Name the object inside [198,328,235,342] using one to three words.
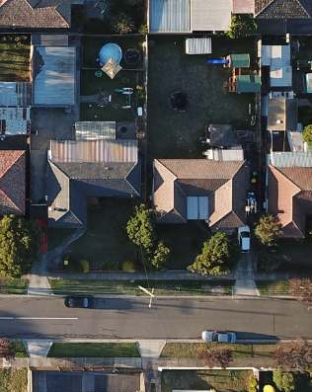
vehicle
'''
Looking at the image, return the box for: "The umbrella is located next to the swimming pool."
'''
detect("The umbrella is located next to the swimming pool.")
[101,59,120,78]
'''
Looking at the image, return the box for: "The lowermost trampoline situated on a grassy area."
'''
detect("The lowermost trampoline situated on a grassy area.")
[173,92,191,109]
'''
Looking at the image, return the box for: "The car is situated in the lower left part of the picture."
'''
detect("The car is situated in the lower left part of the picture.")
[63,295,94,310]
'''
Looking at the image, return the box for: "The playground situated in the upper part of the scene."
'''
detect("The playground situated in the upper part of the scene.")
[207,54,264,92]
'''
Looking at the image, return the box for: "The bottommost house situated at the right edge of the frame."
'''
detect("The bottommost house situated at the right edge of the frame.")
[261,131,312,239]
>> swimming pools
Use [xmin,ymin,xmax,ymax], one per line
[100,42,124,65]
